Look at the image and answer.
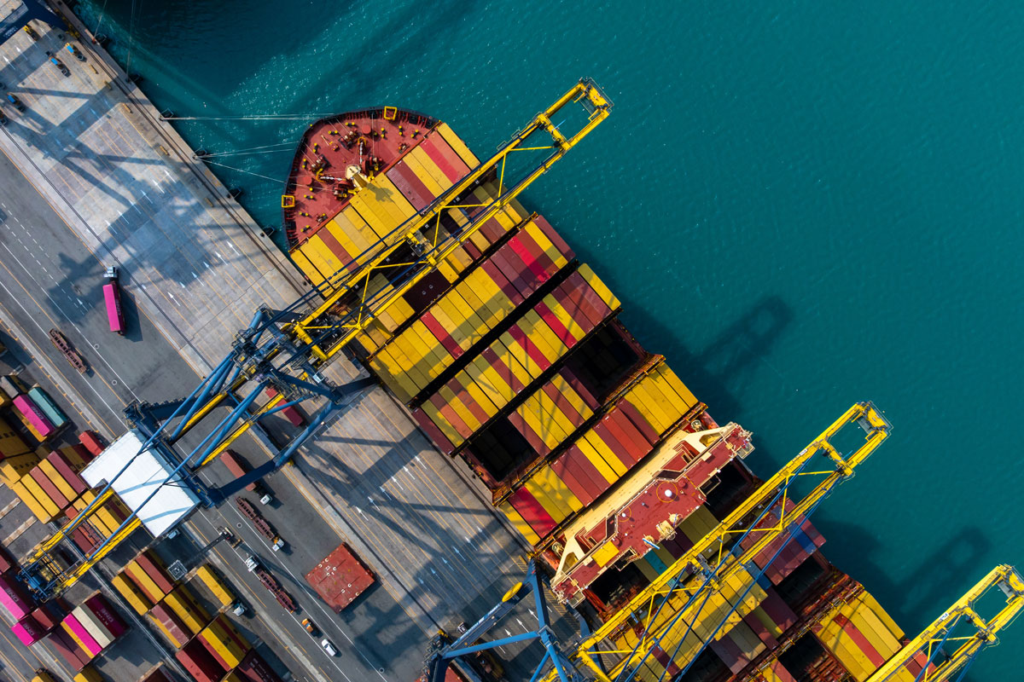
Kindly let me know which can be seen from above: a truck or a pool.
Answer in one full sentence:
The image shows a truck.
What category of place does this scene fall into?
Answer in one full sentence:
The area seen from above is a port.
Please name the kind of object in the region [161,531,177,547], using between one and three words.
car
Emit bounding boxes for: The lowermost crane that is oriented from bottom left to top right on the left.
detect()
[14,77,615,608]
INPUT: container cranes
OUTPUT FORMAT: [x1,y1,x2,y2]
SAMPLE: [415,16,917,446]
[417,398,895,682]
[14,77,615,608]
[854,556,1024,682]
[0,0,90,50]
